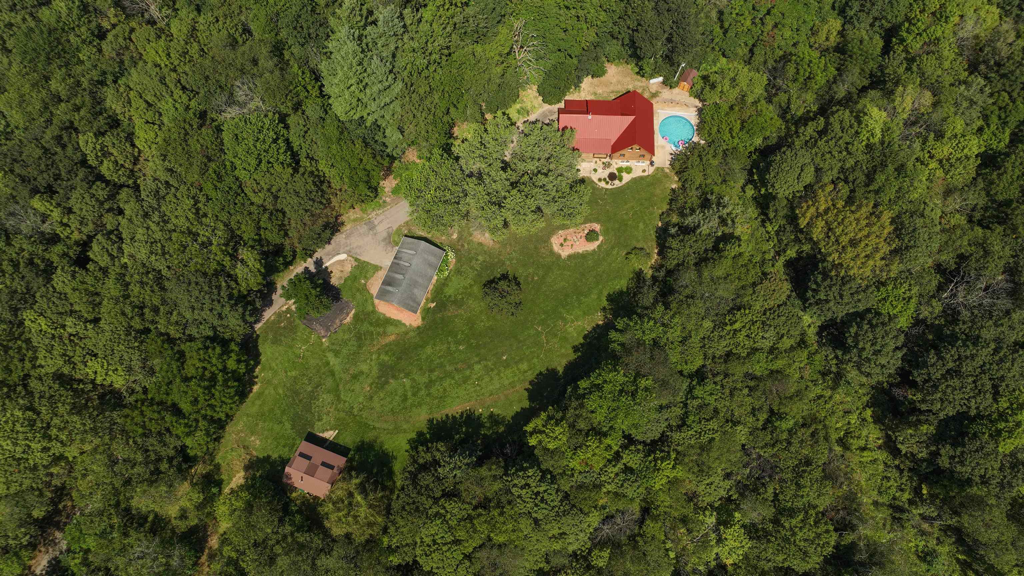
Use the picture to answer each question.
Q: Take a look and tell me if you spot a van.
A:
No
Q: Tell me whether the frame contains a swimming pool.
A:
Yes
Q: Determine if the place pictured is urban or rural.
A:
rural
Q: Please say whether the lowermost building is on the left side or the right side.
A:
left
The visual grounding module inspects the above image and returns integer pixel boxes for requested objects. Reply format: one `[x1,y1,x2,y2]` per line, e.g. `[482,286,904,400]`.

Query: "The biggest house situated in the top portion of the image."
[558,91,655,164]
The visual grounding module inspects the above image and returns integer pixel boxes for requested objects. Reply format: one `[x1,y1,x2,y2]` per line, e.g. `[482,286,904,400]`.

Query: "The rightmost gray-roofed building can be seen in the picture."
[375,236,444,316]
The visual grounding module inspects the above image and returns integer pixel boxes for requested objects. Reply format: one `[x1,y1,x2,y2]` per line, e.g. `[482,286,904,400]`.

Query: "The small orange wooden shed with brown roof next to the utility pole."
[678,63,701,92]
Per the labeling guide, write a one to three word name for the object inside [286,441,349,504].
building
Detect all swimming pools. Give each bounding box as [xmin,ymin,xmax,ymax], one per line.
[658,114,696,153]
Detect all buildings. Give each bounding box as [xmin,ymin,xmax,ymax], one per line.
[375,236,444,316]
[558,91,655,164]
[286,441,349,504]
[678,63,701,92]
